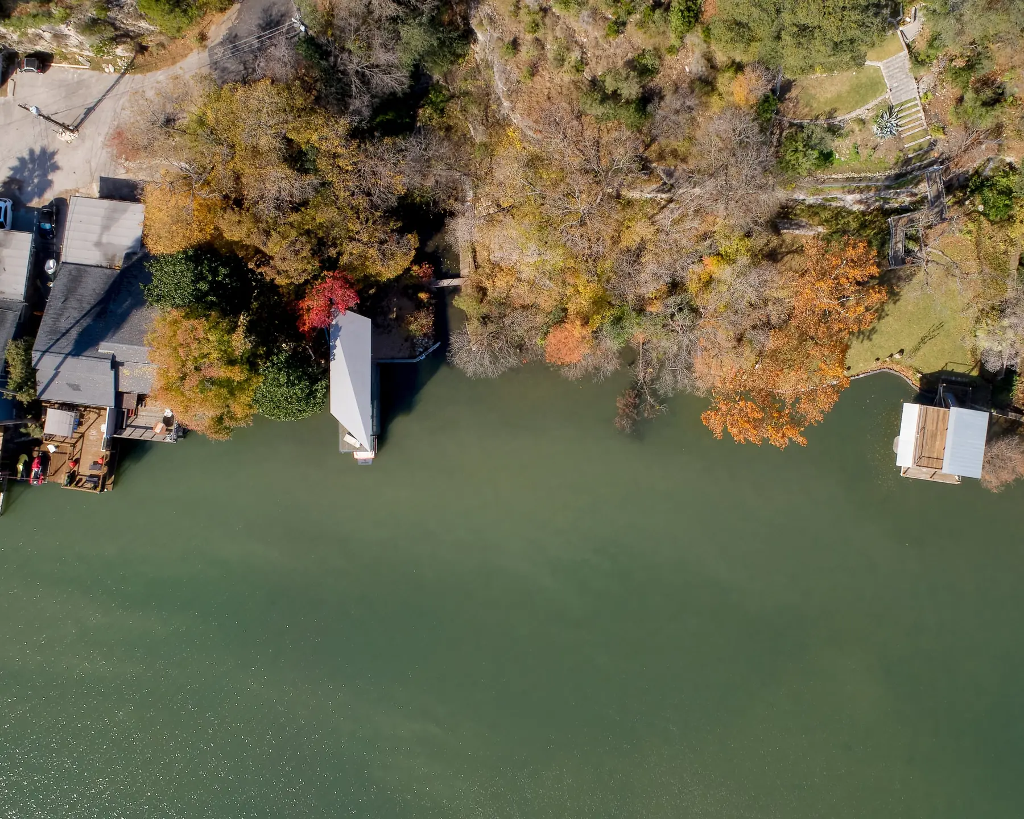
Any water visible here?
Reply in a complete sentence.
Yes, there's water in this view.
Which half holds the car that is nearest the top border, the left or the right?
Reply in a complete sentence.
You can find the car that is nearest the top border on the left side of the picture.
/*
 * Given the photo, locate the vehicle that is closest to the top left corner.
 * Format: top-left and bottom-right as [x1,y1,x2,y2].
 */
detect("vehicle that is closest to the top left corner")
[8,49,47,73]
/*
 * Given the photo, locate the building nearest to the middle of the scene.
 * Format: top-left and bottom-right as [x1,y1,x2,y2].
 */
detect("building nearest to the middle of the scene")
[323,308,381,454]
